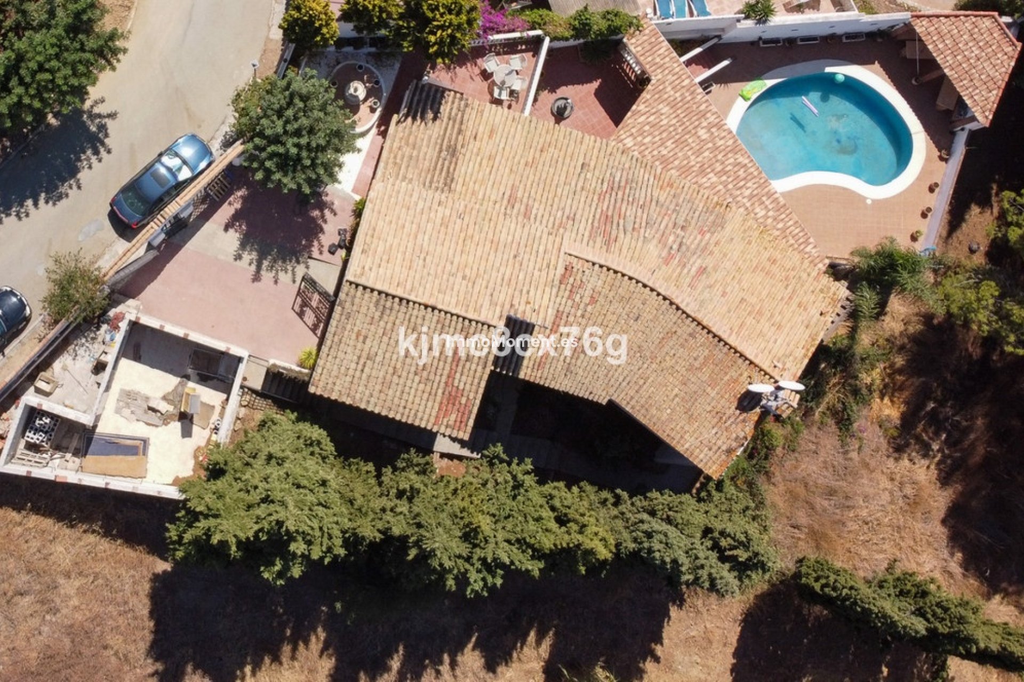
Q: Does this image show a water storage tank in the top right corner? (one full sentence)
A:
No, I can find no water storage tank in the top right corner.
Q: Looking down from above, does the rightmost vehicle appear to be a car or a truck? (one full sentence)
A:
The rightmost vehicle appears to be a car.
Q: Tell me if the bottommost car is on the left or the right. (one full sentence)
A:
The bottommost car sits on the left side.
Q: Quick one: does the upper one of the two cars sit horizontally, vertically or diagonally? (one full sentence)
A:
What the image shows is the upper one of the two cars lying diagonally.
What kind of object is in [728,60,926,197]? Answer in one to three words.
swimming pool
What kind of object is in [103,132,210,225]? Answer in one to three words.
car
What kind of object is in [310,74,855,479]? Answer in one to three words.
house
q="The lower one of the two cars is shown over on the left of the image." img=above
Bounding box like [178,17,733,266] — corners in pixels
[0,281,33,342]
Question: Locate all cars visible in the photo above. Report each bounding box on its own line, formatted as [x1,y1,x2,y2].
[103,132,210,225]
[0,281,33,342]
